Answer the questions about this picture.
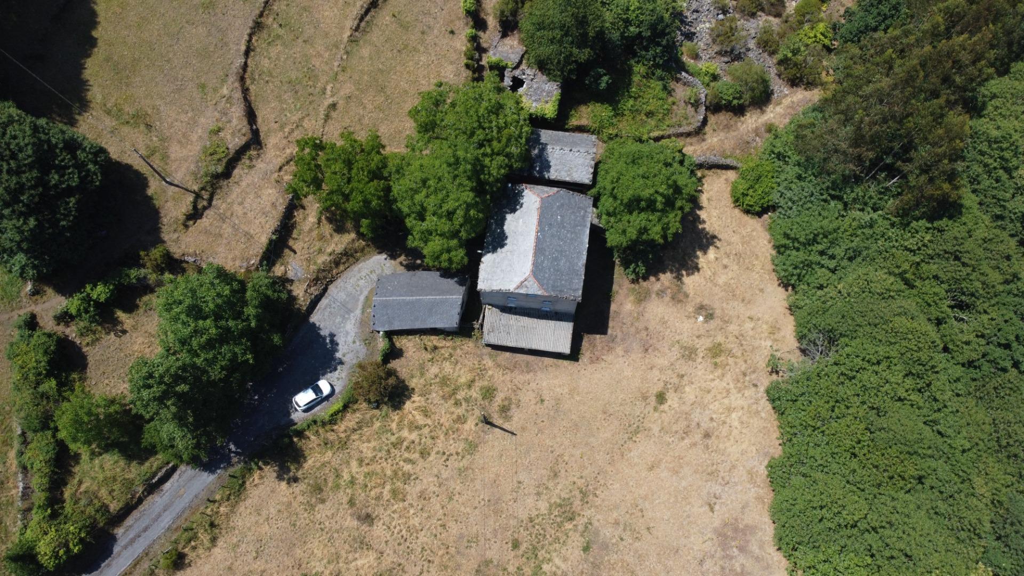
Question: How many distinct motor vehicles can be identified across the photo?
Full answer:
The photo contains exactly 1 motor vehicle.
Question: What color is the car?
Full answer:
The car looks white in the image.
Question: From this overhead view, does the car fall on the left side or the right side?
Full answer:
The car is on the left side of the image.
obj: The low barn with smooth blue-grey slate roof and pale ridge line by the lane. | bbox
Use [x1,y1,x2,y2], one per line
[372,271,468,334]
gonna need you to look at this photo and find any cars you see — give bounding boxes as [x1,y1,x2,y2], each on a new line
[291,380,331,411]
